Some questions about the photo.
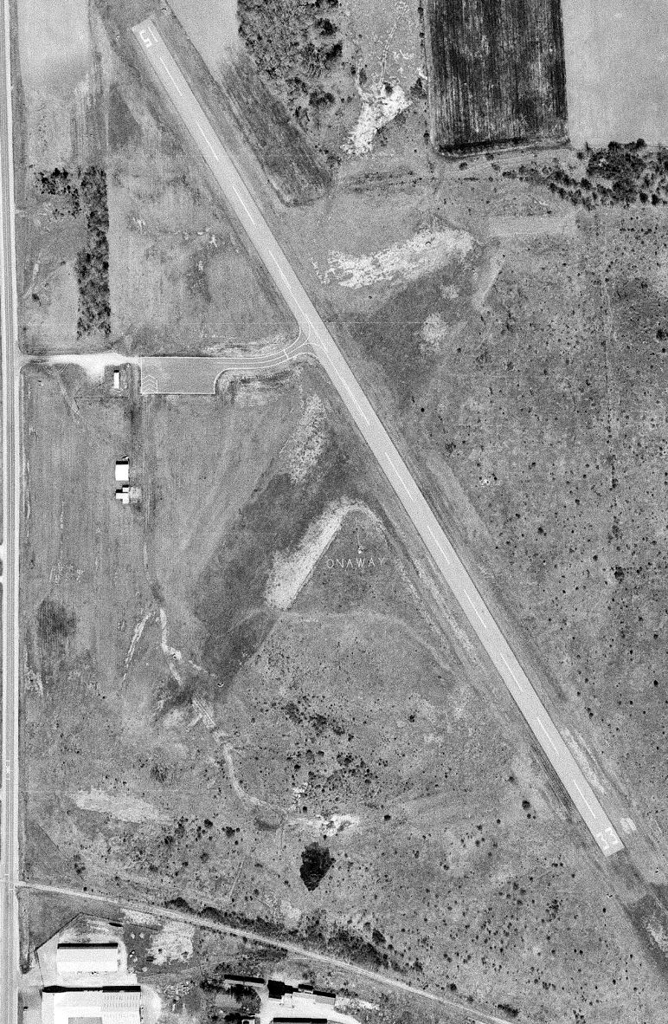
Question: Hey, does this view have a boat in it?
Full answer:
No, this view has no boat in it.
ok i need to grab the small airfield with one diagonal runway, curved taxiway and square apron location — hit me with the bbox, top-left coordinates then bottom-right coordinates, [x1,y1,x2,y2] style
[132,18,624,856]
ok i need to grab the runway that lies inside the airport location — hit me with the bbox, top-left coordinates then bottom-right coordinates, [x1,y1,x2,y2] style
[132,18,624,856]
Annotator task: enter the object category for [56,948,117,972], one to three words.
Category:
building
